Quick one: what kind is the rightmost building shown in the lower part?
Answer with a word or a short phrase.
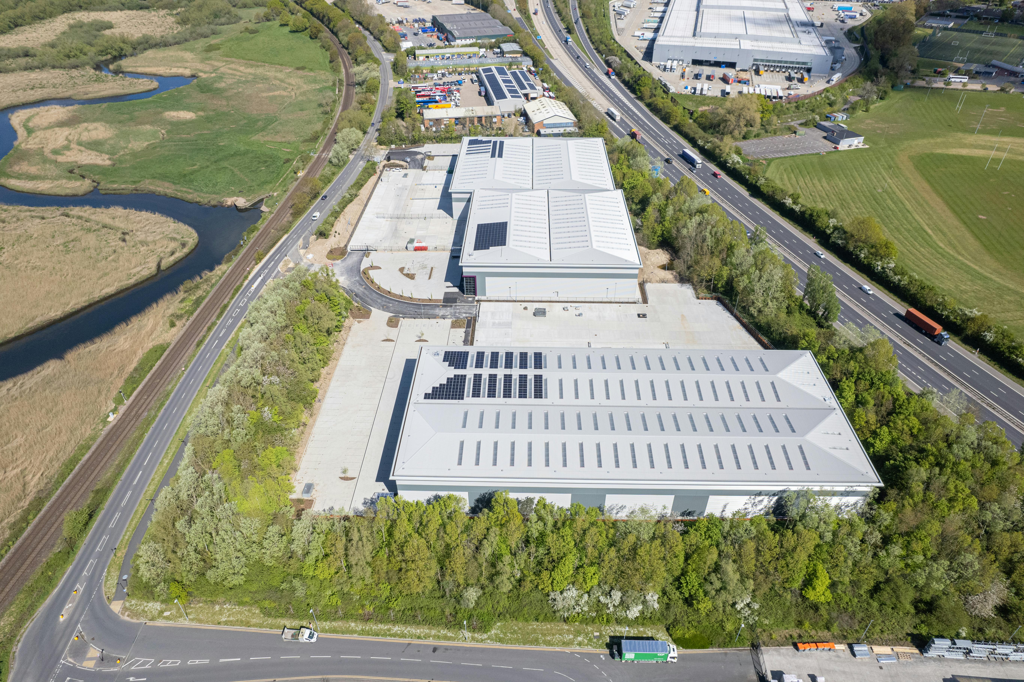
warehouse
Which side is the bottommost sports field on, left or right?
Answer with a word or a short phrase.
right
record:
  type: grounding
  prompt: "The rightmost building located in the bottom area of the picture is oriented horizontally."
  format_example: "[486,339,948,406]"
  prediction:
[389,346,885,519]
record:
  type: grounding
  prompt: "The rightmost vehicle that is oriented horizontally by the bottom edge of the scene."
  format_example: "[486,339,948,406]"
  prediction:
[624,640,680,662]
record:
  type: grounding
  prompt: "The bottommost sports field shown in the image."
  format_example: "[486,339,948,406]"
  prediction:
[763,88,1024,371]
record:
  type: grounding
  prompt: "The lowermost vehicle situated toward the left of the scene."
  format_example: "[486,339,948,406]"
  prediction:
[281,626,316,644]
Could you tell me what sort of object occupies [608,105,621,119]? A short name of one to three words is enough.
vehicle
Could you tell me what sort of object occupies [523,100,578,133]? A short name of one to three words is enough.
shed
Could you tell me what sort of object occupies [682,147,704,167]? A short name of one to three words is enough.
vehicle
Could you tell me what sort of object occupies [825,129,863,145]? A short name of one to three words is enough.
building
